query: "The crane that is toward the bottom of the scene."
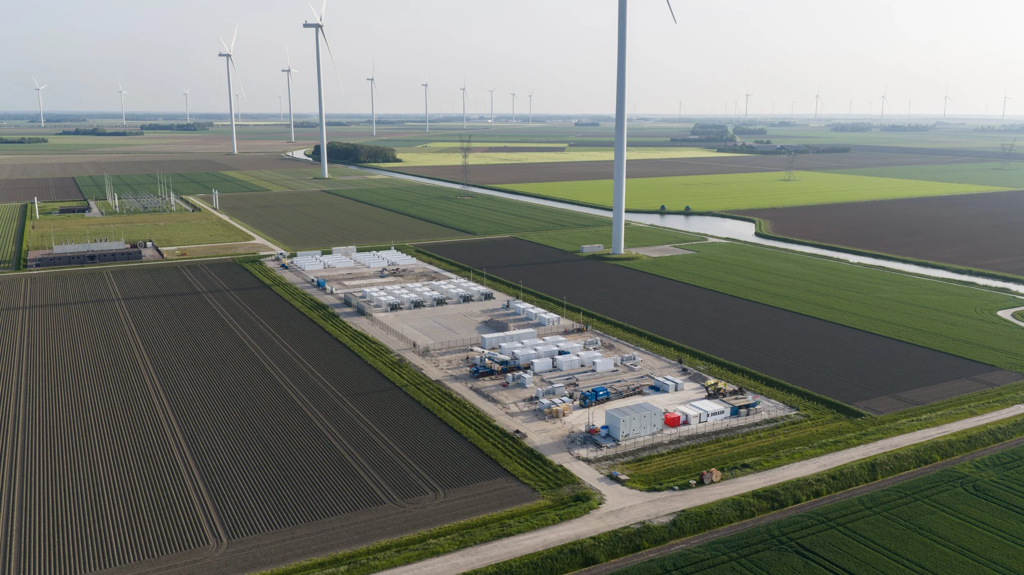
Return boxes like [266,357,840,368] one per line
[469,346,522,377]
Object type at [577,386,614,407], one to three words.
truck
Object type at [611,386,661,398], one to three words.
vehicle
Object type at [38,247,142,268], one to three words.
building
